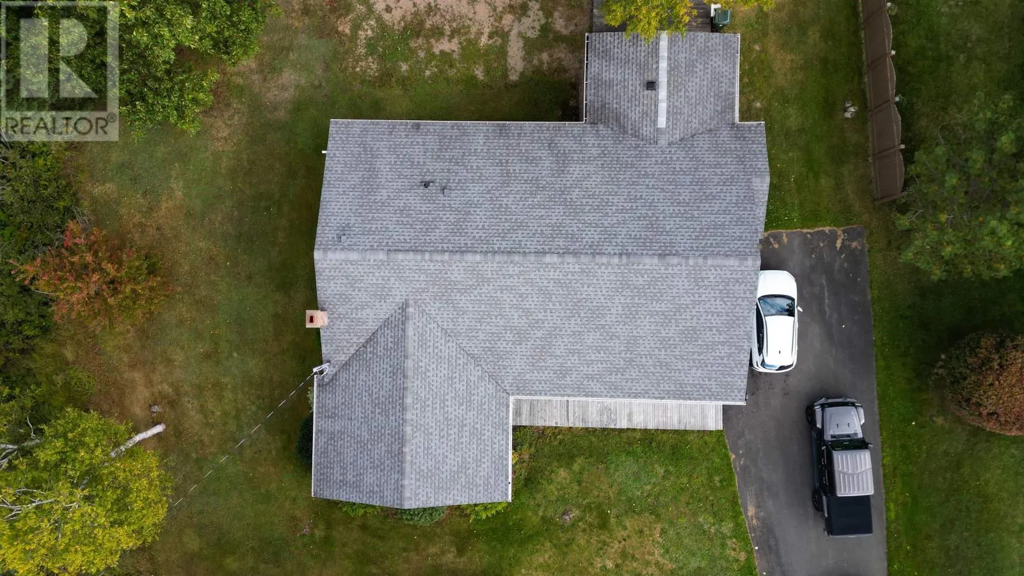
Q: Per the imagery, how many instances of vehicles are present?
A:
two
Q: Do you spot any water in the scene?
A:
No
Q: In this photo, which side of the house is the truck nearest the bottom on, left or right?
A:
on the right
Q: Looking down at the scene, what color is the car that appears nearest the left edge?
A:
white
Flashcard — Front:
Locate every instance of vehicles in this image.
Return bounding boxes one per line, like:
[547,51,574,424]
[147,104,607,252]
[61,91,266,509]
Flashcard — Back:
[804,395,874,541]
[749,270,804,375]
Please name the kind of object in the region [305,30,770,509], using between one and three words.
house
